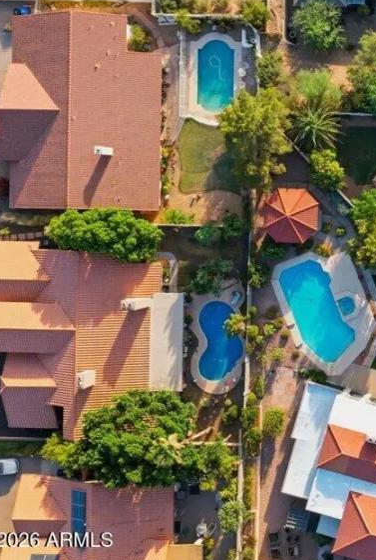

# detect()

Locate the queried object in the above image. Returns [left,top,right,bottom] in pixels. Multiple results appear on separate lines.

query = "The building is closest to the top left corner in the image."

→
[0,11,164,210]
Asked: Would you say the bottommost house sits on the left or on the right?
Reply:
left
